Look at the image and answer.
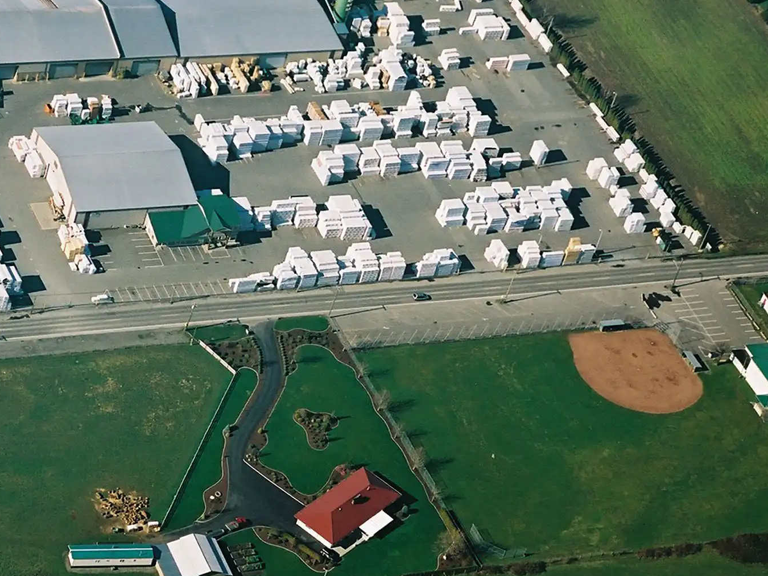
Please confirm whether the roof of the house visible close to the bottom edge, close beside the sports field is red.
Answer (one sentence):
Yes, the roof of the house visible close to the bottom edge, close beside the sports field appears red.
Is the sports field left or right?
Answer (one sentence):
You can find the sports field on the right side of the picture.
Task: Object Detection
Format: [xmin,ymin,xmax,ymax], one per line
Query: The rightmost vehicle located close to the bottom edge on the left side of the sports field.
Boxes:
[320,545,345,561]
